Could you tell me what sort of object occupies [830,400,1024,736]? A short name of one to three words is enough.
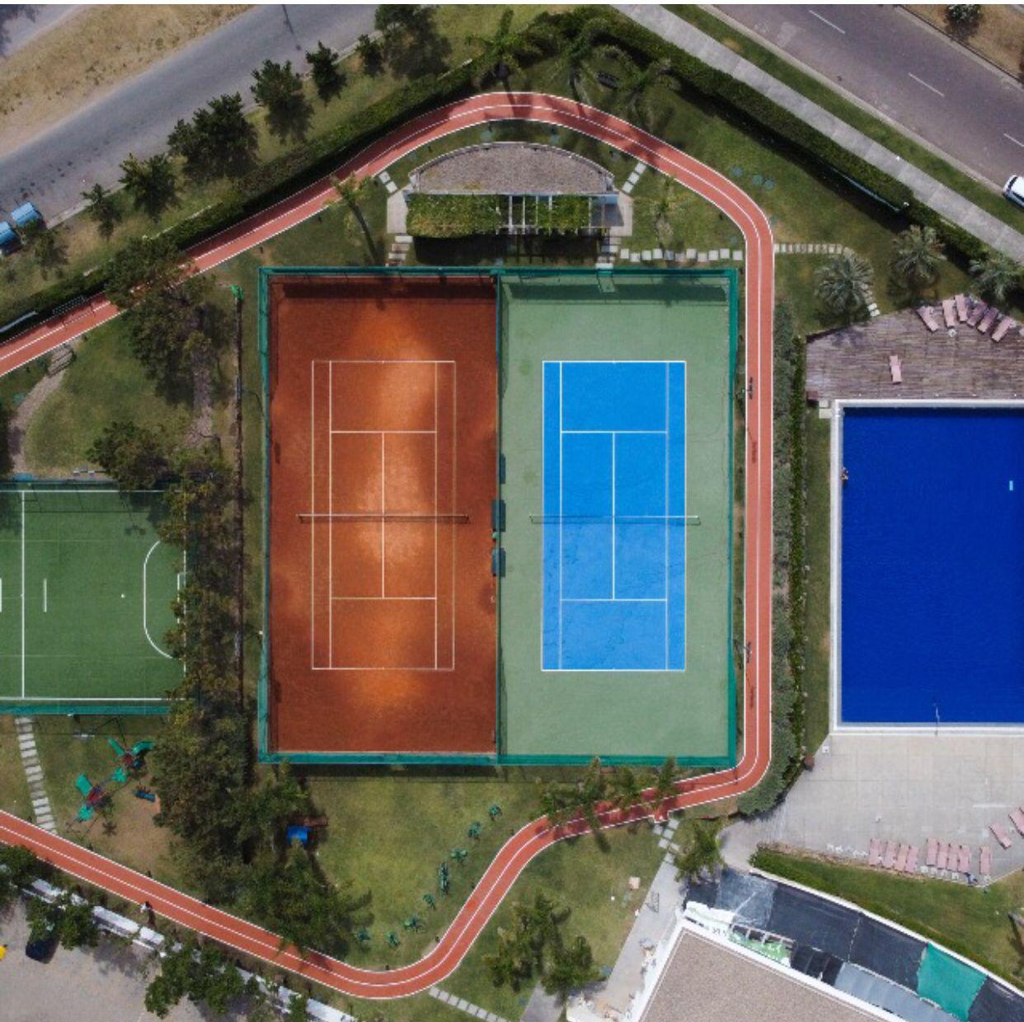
swimming pool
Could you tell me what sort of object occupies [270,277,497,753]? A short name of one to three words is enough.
tennis court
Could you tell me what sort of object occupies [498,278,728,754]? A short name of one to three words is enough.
tennis court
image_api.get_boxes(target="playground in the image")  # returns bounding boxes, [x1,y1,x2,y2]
[69,736,156,828]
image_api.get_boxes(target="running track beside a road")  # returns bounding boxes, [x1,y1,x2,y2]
[0,92,773,999]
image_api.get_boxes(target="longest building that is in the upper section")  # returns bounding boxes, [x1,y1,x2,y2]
[409,141,624,238]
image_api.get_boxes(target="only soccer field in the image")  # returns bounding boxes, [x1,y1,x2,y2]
[0,481,195,703]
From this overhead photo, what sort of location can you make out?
sports ground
